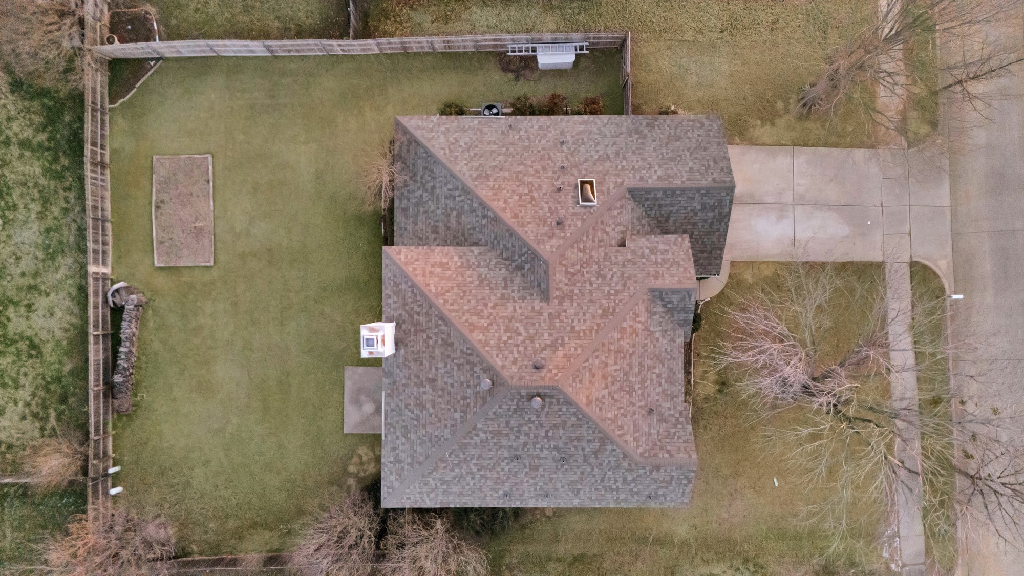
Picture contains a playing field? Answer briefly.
No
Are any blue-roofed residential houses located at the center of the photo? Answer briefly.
No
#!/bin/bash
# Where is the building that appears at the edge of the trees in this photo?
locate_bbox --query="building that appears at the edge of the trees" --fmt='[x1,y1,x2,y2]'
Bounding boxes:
[360,113,735,510]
